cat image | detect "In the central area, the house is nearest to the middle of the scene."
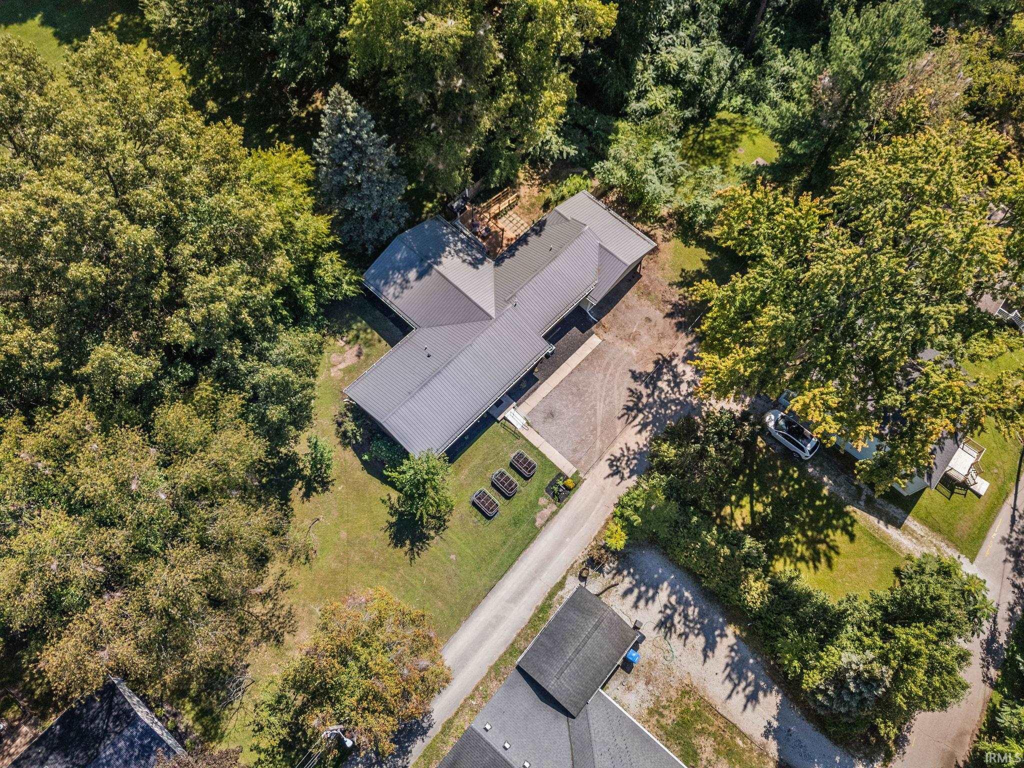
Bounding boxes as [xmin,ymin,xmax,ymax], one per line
[343,192,658,470]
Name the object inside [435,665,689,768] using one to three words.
house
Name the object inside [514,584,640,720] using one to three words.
building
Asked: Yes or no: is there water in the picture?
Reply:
No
